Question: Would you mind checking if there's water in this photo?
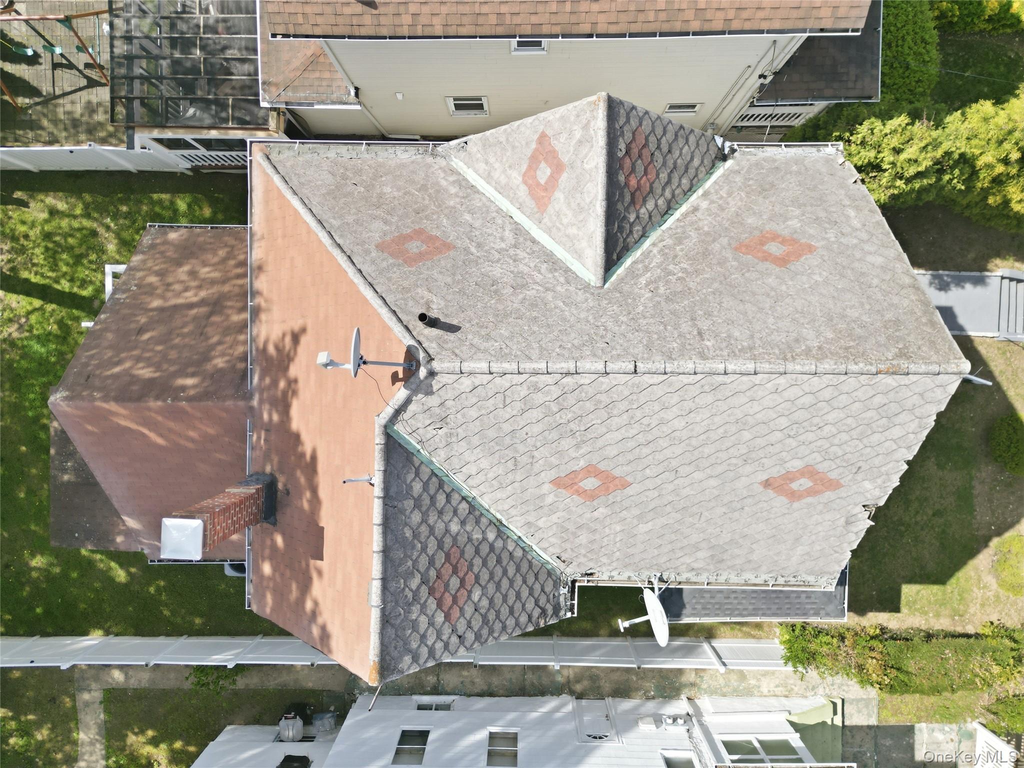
No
